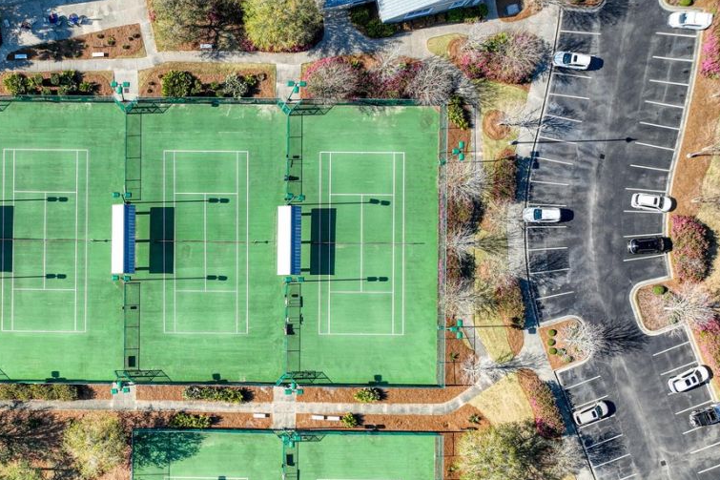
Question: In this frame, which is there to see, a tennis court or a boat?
tennis court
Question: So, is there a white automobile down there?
Yes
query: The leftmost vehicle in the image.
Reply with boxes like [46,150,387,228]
[522,206,561,224]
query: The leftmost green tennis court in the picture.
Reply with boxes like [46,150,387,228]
[0,102,125,382]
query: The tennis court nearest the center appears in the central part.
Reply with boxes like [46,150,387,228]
[285,104,438,384]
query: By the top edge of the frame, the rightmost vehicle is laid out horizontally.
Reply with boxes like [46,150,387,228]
[665,9,712,30]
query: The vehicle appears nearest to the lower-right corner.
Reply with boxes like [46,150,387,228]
[685,403,720,426]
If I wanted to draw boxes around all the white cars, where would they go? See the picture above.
[551,49,591,70]
[665,366,708,393]
[628,194,670,211]
[569,399,608,425]
[522,206,561,224]
[665,9,712,30]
